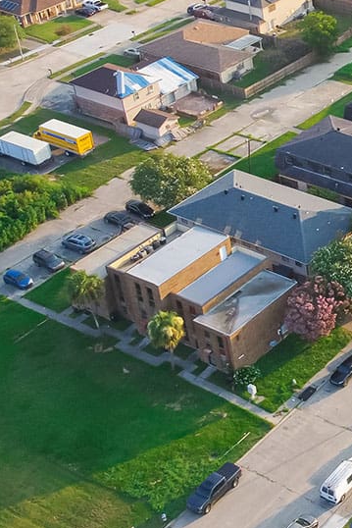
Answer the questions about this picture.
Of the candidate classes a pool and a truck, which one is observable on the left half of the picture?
truck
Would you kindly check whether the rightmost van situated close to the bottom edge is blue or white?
white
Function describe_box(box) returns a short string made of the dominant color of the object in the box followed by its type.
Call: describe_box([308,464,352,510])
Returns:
white van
